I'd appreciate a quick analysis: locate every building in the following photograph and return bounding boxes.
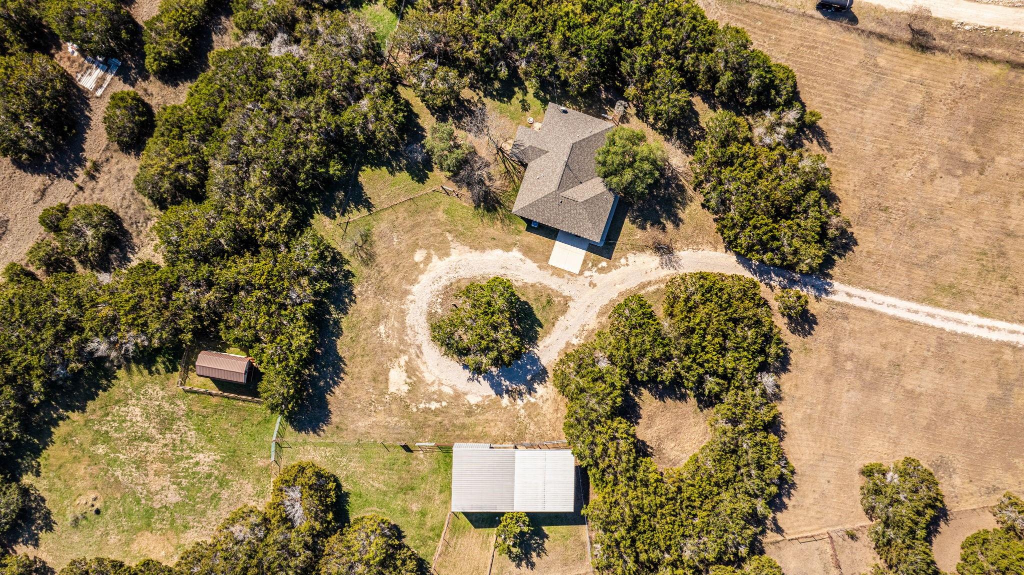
[196,351,253,385]
[451,440,575,512]
[509,102,619,243]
